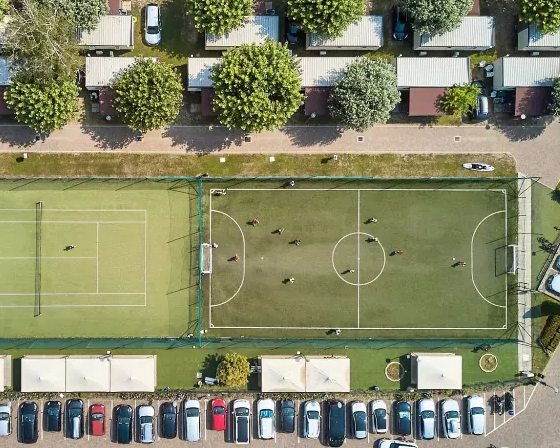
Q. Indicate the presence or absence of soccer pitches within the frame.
Yes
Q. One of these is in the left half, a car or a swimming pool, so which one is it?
car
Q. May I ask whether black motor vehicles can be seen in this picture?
Yes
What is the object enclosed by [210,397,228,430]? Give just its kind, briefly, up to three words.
car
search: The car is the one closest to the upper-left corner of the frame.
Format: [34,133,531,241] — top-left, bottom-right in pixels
[143,5,161,46]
